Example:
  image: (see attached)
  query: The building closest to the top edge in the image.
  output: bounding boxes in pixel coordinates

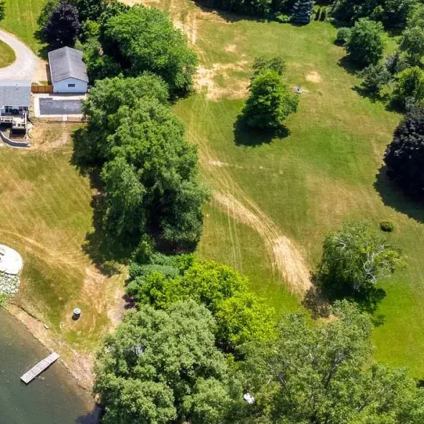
[49,46,88,91]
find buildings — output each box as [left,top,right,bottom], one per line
[49,46,88,91]
[0,79,31,141]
